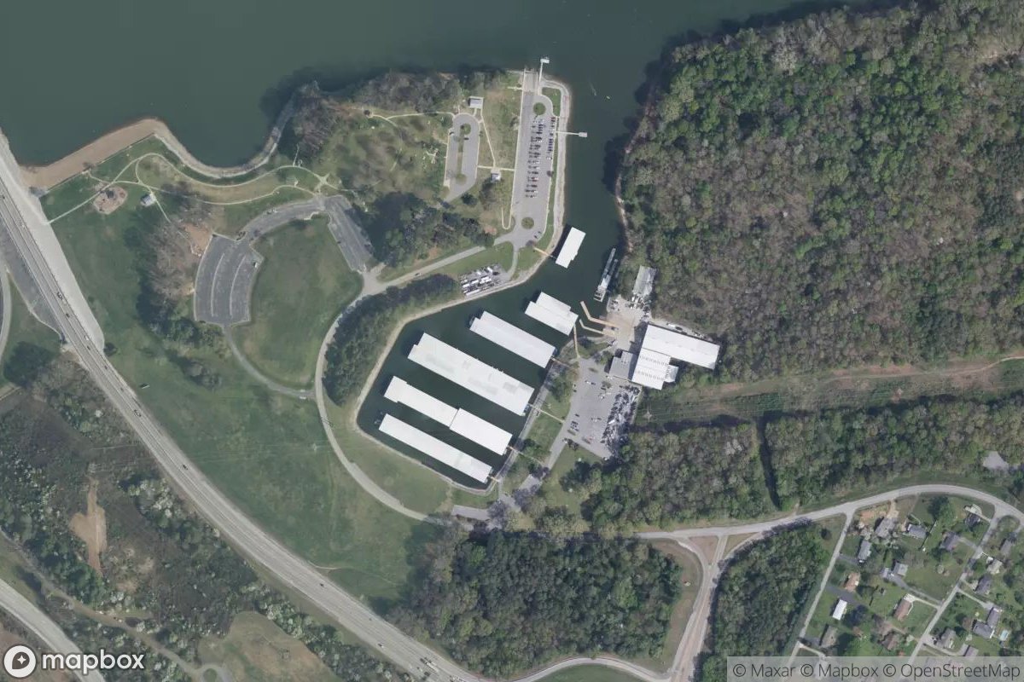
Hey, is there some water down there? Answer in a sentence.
Yes, the picture does contain water.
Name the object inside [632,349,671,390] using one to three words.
shed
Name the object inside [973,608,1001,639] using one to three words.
house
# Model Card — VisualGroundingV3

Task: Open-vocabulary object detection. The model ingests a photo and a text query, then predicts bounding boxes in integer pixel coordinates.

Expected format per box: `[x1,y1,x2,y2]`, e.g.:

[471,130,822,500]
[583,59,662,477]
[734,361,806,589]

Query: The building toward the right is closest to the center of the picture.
[609,351,637,380]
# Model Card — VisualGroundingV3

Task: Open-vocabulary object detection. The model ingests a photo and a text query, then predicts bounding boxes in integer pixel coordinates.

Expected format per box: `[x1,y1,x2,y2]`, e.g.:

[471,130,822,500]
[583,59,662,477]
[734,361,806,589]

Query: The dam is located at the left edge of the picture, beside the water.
[0,131,105,352]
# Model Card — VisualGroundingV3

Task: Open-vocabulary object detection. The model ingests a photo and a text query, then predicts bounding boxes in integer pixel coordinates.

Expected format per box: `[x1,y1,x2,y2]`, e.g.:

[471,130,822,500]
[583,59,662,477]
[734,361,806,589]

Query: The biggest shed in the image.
[643,324,720,369]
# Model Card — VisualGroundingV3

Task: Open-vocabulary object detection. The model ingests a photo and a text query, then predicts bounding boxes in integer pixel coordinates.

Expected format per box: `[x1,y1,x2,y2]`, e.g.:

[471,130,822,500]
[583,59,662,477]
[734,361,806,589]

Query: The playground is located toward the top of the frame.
[94,186,127,214]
